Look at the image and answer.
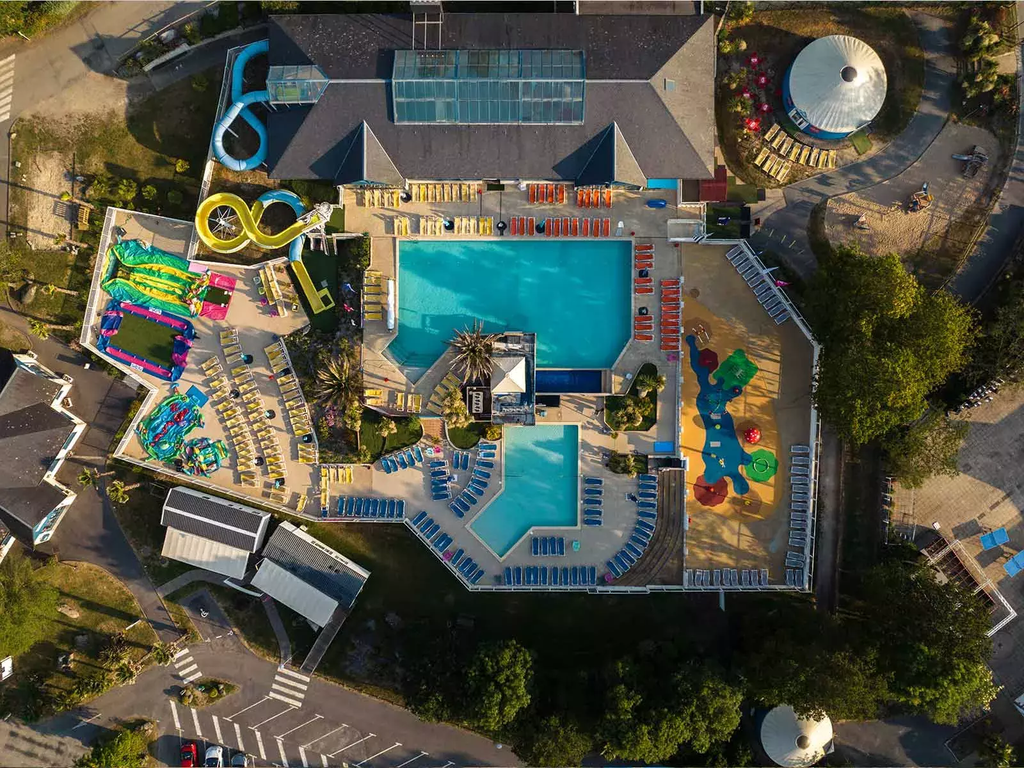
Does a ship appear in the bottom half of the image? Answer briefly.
No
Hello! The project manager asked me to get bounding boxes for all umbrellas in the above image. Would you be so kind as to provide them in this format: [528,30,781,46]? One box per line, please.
[274,368,291,378]
[249,456,264,467]
[443,219,454,231]
[535,221,545,232]
[638,269,649,278]
[400,189,411,202]
[238,353,253,364]
[638,306,649,316]
[272,477,286,487]
[299,433,312,443]
[496,219,507,231]
[261,409,276,419]
[223,389,239,400]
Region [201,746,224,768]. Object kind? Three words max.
car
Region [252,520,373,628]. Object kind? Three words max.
building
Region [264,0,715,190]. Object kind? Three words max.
building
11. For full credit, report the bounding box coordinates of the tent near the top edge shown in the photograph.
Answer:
[777,35,887,144]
